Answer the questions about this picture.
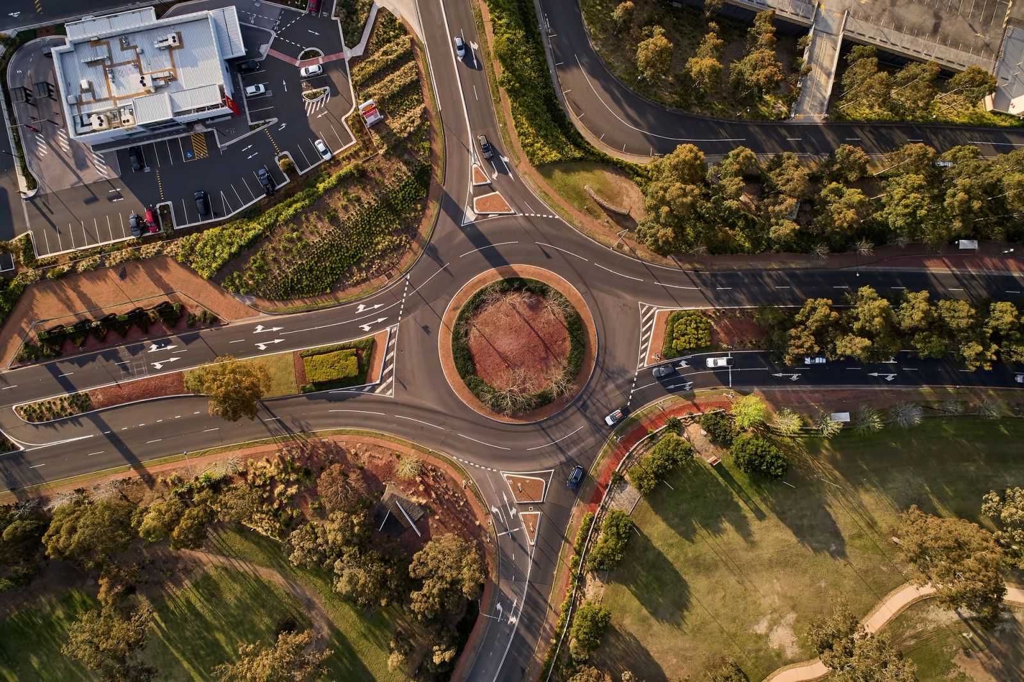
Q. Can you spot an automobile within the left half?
Yes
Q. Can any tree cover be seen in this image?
Yes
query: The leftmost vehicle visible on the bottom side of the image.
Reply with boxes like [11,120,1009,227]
[567,464,584,489]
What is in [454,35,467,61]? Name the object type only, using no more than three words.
vehicle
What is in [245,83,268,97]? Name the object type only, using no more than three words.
car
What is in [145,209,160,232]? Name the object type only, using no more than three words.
car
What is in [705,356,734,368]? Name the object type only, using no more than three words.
vehicle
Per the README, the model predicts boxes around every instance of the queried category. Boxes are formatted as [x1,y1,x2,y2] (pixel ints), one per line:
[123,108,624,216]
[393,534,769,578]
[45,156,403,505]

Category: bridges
[793,0,852,117]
